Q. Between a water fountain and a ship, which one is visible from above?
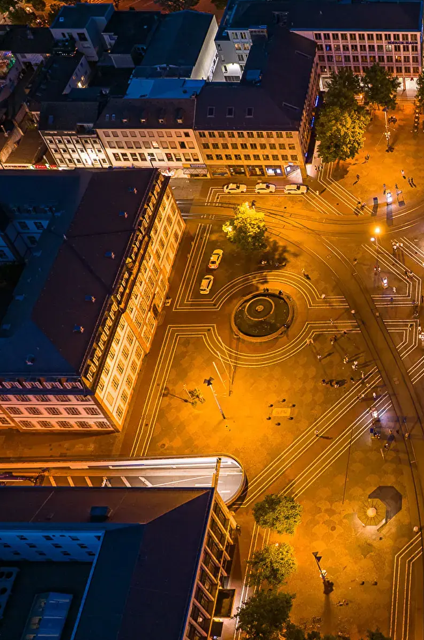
water fountain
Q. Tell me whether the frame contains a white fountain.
No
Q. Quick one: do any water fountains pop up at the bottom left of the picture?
No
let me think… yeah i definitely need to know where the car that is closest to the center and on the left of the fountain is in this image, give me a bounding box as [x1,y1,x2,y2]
[198,274,216,296]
